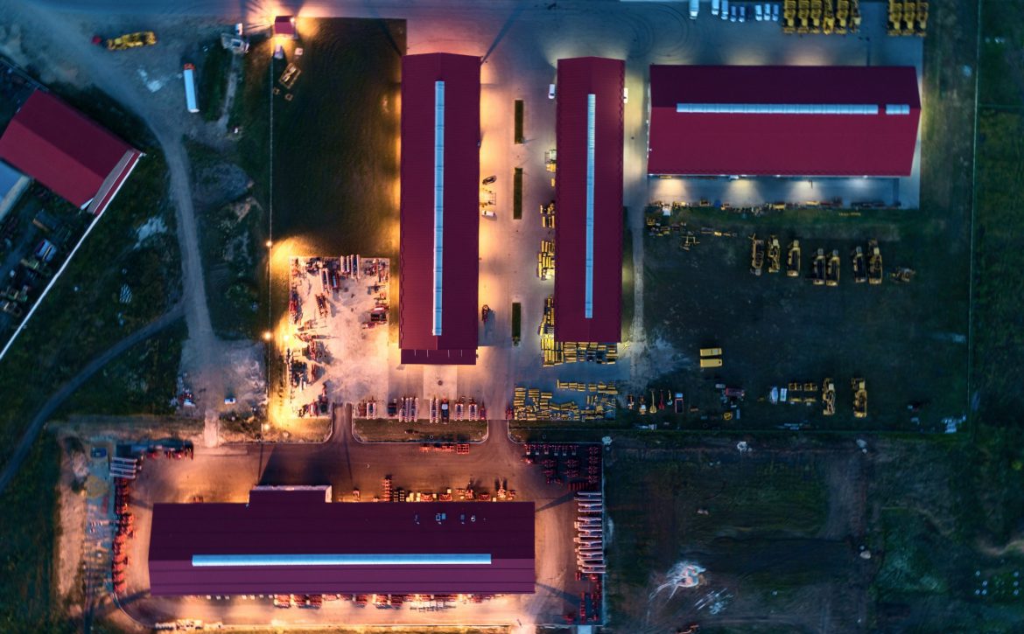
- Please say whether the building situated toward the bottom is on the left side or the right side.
left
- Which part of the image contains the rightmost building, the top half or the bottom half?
top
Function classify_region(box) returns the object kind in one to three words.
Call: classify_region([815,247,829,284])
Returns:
work vehicle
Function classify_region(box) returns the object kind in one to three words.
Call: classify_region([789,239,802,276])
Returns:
vehicle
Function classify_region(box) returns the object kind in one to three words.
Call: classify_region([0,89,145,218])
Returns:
warehouse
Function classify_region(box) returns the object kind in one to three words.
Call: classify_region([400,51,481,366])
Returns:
building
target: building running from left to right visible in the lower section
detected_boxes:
[141,486,535,596]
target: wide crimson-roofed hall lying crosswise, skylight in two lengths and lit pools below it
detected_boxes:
[647,65,924,179]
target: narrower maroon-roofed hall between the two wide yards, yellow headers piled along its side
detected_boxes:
[555,55,625,342]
